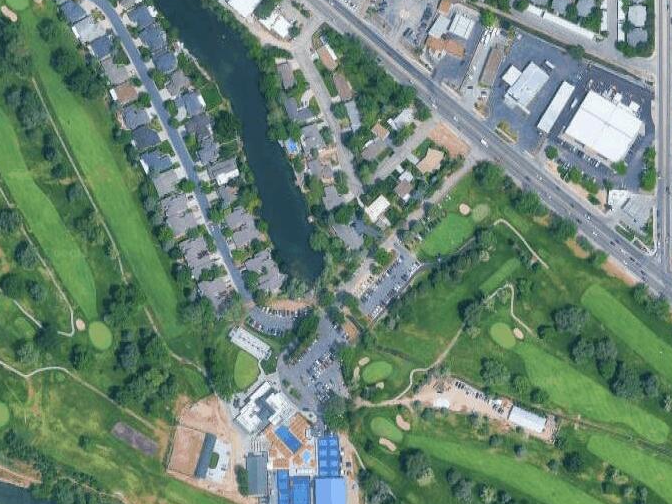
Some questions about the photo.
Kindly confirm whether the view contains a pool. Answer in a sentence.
Yes, I can see a pool in this picture.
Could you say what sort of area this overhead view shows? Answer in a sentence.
The area seen from above is a golf course.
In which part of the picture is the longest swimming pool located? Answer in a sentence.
The longest swimming pool sits in the bottom section of the image.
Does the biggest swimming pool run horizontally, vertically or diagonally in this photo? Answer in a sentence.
The biggest swimming pool is oriented diagonally.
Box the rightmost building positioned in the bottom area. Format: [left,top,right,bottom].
[510,406,547,432]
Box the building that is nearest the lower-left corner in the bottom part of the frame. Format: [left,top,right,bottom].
[195,434,217,479]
